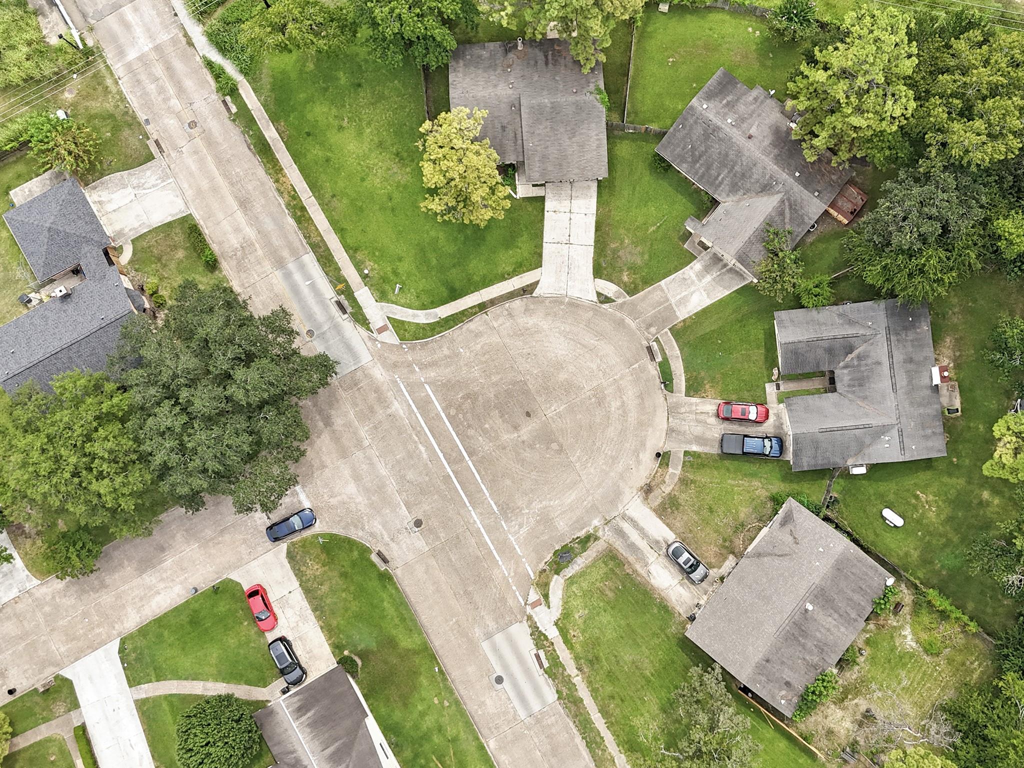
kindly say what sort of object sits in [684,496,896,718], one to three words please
house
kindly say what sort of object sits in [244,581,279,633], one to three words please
car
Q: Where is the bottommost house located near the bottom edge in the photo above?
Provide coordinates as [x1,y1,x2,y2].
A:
[253,658,402,768]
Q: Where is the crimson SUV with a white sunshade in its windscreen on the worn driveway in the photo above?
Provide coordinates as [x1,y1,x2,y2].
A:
[716,401,768,425]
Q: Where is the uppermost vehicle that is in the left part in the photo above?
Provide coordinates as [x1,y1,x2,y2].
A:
[265,506,319,544]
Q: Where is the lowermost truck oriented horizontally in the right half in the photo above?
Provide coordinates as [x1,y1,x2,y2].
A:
[718,433,783,459]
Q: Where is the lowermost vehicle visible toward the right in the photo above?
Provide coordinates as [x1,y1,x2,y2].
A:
[665,538,709,586]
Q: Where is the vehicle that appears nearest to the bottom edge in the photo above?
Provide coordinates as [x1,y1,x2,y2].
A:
[269,632,306,686]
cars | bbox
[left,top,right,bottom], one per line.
[716,401,768,425]
[265,506,319,544]
[665,538,709,586]
[269,632,306,686]
[244,581,279,633]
